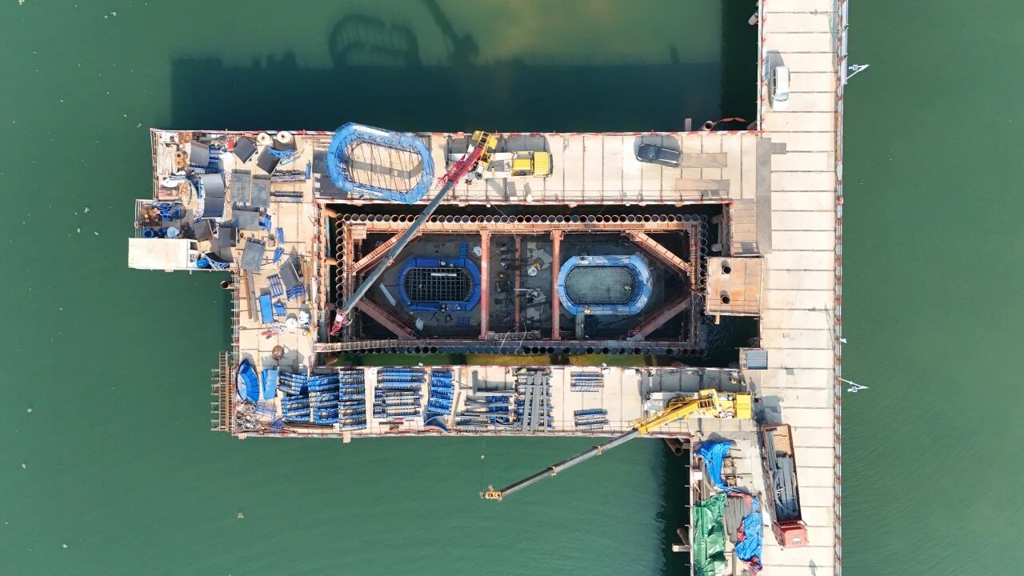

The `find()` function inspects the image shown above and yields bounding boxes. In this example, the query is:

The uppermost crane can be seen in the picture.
[326,127,554,343]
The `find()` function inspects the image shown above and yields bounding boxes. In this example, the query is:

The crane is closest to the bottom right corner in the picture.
[479,376,753,506]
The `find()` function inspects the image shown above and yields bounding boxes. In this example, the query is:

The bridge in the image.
[740,0,850,576]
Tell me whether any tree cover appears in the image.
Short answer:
No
